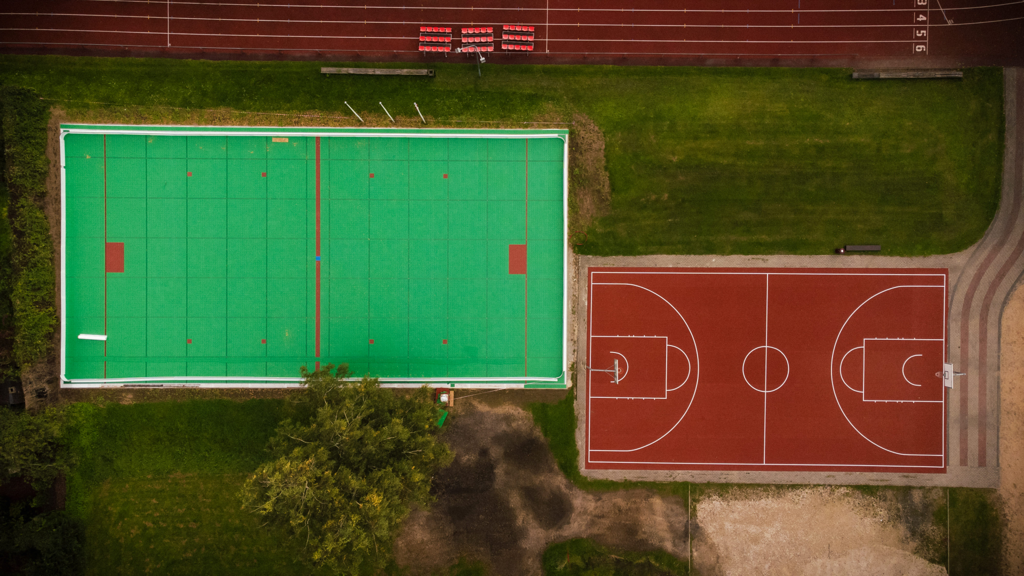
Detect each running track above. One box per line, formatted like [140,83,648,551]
[0,0,1024,69]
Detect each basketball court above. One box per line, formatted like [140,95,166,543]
[585,268,949,473]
